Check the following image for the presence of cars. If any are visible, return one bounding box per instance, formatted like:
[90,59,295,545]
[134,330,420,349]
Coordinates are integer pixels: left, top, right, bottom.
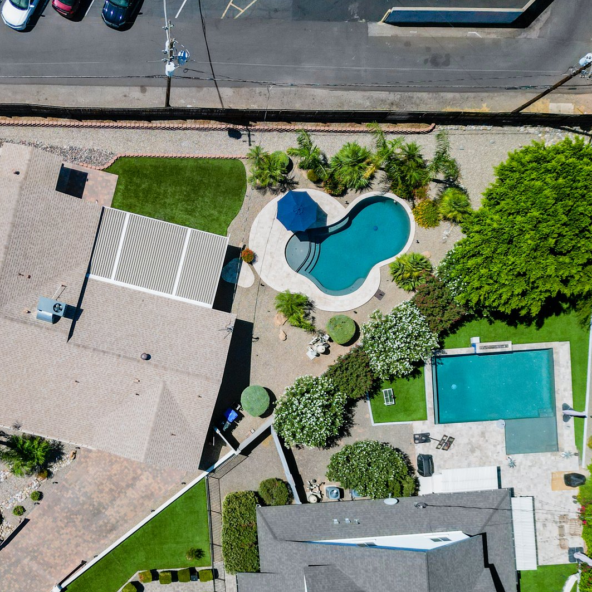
[102,0,141,30]
[5,0,45,31]
[50,0,86,19]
